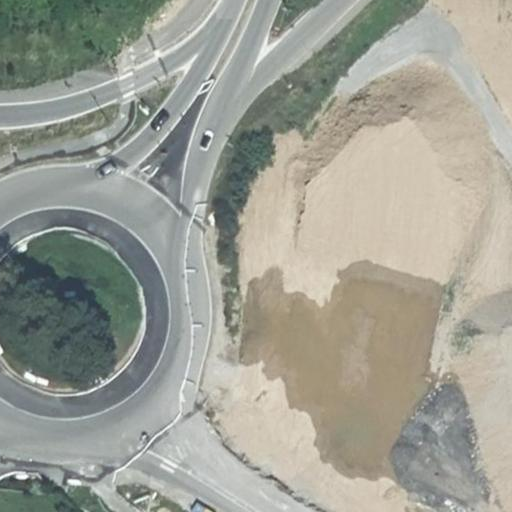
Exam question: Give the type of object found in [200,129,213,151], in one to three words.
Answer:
vehicle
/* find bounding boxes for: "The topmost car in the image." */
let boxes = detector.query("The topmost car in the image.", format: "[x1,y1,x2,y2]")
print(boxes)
[150,108,170,130]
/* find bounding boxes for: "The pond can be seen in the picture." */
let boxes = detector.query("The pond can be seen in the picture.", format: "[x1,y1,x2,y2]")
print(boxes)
[242,260,442,480]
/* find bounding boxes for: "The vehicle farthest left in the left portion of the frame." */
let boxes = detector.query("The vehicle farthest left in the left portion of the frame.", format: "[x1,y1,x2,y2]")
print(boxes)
[96,160,118,177]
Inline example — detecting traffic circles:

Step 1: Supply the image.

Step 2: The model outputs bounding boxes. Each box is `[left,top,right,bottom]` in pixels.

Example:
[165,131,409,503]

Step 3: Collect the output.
[0,152,192,481]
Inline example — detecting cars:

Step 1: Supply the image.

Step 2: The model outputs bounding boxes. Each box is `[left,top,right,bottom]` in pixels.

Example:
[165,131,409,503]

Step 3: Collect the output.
[150,108,170,130]
[96,160,118,177]
[200,129,213,151]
